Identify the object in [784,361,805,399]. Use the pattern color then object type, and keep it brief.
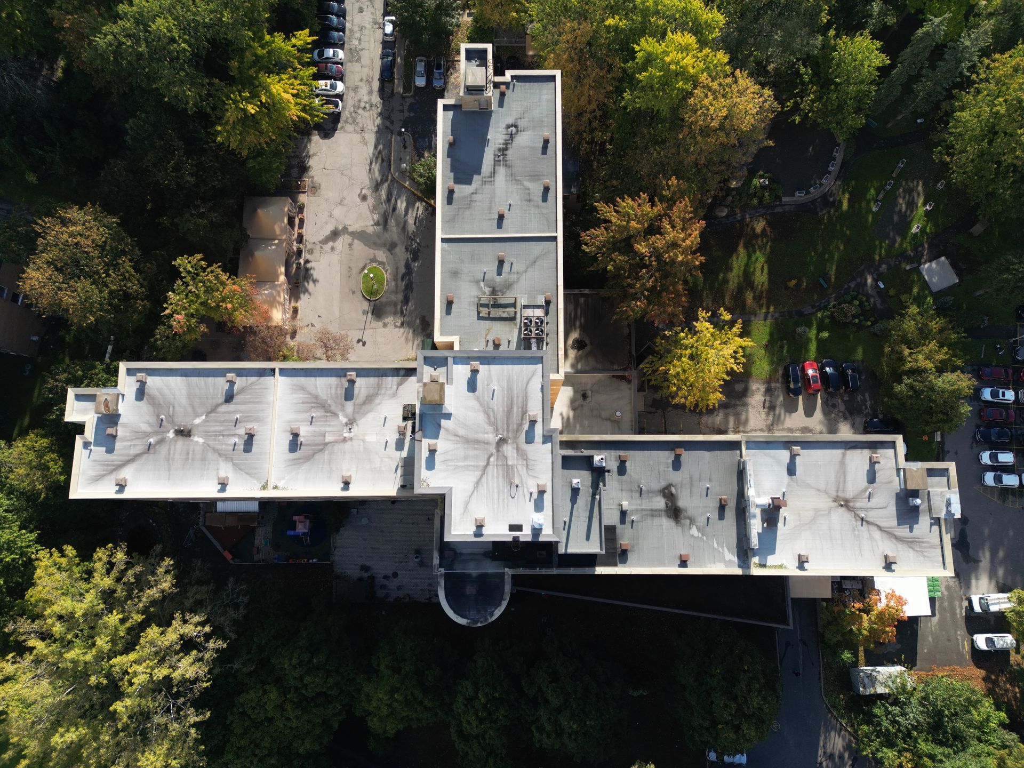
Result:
black car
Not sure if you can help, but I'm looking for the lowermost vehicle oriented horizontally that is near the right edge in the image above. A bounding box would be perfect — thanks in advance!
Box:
[975,633,1016,652]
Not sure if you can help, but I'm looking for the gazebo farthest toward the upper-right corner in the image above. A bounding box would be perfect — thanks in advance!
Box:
[909,255,960,298]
